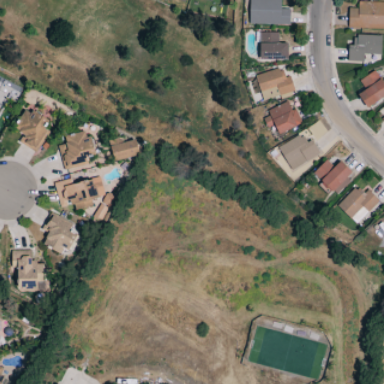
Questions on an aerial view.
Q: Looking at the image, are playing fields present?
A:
Yes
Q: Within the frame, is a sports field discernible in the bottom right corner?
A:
Yes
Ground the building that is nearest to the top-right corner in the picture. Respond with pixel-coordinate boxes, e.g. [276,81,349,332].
[349,0,384,28]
